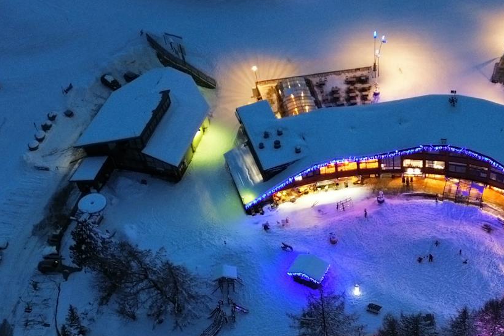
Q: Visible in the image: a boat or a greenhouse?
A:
greenhouse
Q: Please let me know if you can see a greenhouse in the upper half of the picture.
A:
Yes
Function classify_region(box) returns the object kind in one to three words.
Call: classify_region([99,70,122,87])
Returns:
car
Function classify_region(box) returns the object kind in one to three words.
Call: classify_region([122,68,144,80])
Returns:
vehicle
